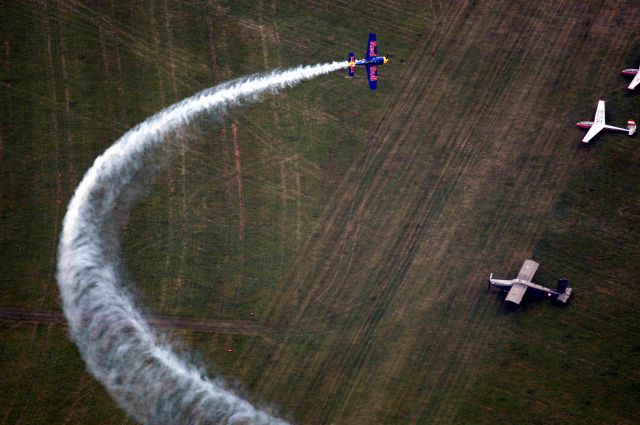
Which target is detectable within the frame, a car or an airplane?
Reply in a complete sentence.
Visible in the photo is an airplane.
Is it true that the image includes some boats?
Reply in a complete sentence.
No, there isn't any boat down there.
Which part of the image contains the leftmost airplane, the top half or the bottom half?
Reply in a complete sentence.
It is in the top half that the leftmost airplane appears.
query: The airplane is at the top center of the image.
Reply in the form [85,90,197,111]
[347,33,389,89]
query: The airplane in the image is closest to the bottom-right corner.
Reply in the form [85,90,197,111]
[491,261,571,304]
